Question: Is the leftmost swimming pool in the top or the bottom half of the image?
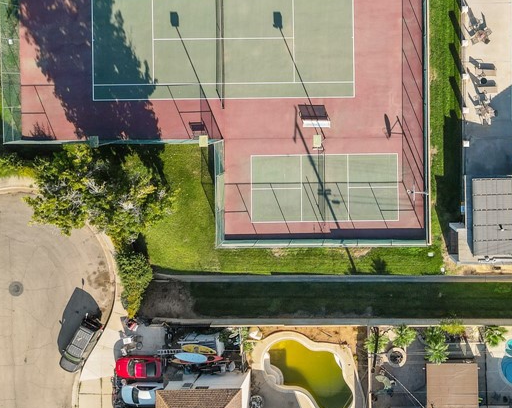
bottom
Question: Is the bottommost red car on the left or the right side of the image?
left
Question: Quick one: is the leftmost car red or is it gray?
gray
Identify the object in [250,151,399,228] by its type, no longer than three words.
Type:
sports court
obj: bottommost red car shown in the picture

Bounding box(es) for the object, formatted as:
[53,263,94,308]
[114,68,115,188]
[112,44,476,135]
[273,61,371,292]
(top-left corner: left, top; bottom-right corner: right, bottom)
[115,355,165,382]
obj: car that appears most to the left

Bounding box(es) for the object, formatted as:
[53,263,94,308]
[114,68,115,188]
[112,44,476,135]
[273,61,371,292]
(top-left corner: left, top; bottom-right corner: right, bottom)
[65,308,106,371]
